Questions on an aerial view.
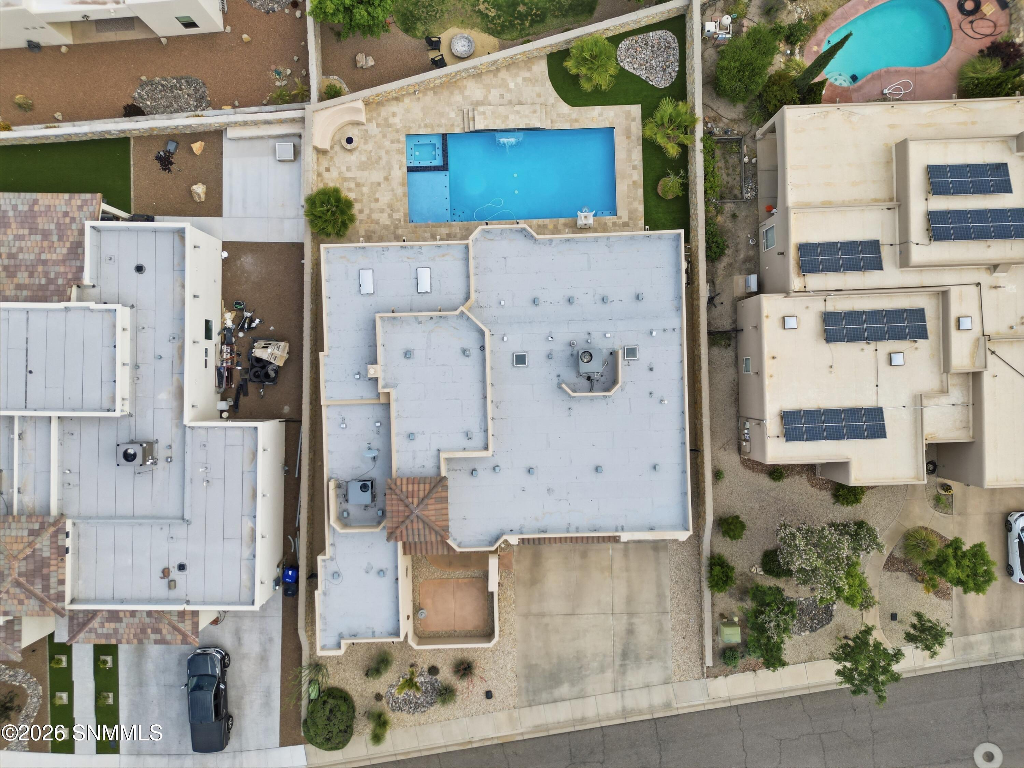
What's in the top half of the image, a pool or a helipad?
pool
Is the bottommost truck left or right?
left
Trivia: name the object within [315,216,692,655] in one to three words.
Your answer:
house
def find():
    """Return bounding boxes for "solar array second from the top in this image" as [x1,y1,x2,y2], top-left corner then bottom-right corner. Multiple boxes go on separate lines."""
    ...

[928,208,1024,242]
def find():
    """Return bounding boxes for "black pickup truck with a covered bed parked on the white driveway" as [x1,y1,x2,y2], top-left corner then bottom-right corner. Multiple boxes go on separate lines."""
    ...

[179,641,235,754]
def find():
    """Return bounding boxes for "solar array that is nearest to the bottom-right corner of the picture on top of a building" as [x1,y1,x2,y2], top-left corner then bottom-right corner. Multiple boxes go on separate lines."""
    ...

[782,407,886,442]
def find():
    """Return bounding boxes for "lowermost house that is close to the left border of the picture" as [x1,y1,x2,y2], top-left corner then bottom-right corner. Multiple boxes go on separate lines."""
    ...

[0,192,287,663]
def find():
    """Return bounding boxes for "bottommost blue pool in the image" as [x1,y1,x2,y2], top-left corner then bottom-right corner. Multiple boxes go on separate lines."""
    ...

[405,127,617,223]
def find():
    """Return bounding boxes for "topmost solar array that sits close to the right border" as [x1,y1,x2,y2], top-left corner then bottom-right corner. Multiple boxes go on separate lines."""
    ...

[926,163,1012,197]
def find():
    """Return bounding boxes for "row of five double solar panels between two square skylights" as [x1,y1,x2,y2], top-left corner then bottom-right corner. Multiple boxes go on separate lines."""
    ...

[823,308,928,343]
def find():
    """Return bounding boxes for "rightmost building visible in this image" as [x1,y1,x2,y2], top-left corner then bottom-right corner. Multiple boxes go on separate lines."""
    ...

[737,87,1024,488]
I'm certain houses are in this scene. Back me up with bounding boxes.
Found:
[315,216,692,655]
[0,192,287,663]
[0,0,224,41]
[737,87,1024,488]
